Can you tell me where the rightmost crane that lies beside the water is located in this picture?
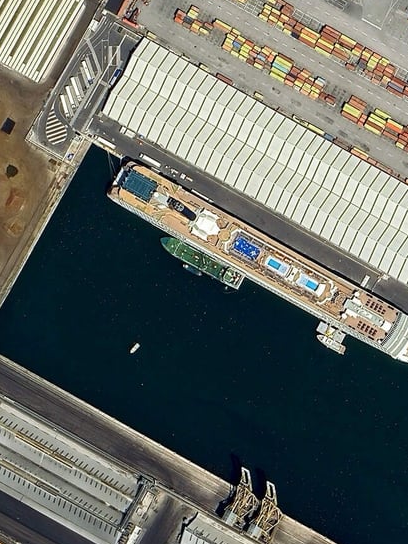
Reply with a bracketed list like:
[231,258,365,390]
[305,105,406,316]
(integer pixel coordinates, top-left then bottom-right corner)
[251,478,289,537]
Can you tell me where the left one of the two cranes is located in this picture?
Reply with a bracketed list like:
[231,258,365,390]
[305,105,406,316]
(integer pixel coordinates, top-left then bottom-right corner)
[226,465,262,524]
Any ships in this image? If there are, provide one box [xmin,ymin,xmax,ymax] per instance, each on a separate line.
[114,160,408,366]
[160,237,247,290]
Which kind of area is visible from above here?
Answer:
port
